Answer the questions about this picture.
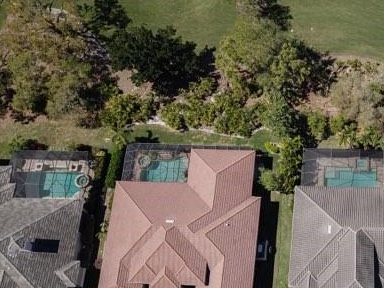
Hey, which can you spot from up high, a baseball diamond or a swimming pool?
swimming pool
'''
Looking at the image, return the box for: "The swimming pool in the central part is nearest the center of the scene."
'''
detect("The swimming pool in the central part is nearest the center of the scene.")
[132,155,190,183]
